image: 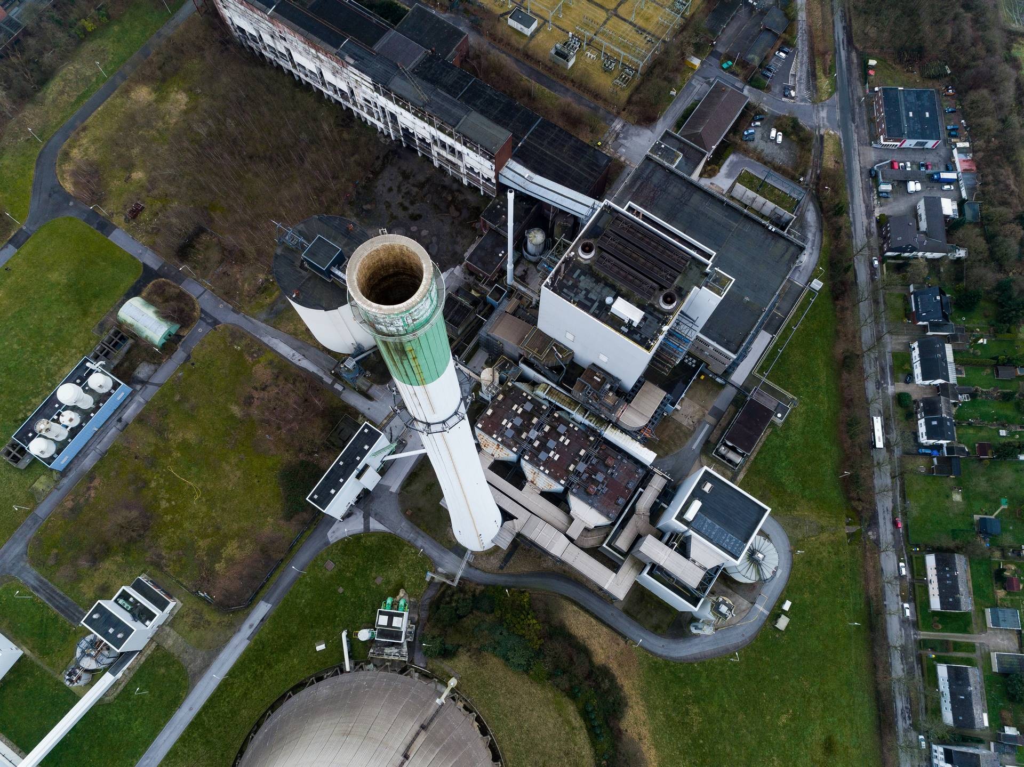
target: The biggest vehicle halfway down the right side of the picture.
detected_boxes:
[872,414,887,448]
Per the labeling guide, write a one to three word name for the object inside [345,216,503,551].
chimney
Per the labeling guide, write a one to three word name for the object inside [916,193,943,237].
house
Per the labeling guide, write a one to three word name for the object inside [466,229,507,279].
shed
